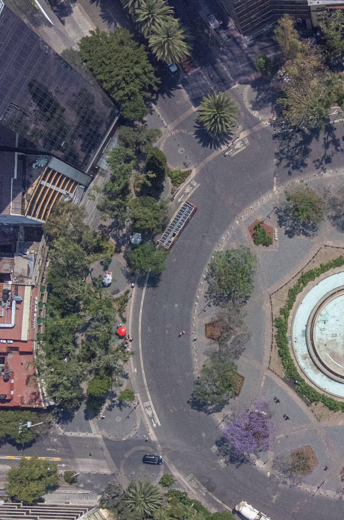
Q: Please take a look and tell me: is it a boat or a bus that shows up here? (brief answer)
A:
bus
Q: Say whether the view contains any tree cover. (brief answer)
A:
Yes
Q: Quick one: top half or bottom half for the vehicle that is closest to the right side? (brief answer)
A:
bottom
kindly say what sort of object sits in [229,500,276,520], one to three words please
vehicle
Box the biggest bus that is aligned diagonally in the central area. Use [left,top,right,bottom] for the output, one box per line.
[158,199,198,252]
